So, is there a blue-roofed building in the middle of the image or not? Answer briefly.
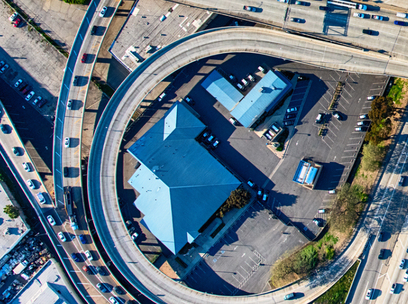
Yes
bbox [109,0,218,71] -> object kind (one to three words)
building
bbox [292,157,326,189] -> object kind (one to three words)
building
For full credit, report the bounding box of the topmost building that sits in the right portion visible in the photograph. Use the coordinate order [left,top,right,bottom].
[202,69,294,129]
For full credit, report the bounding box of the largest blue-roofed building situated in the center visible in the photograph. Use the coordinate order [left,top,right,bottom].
[128,102,244,255]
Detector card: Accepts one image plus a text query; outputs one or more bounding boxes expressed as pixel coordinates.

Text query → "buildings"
[0,168,38,264]
[8,256,87,304]
[292,157,326,189]
[128,102,244,255]
[109,0,218,71]
[202,69,294,129]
